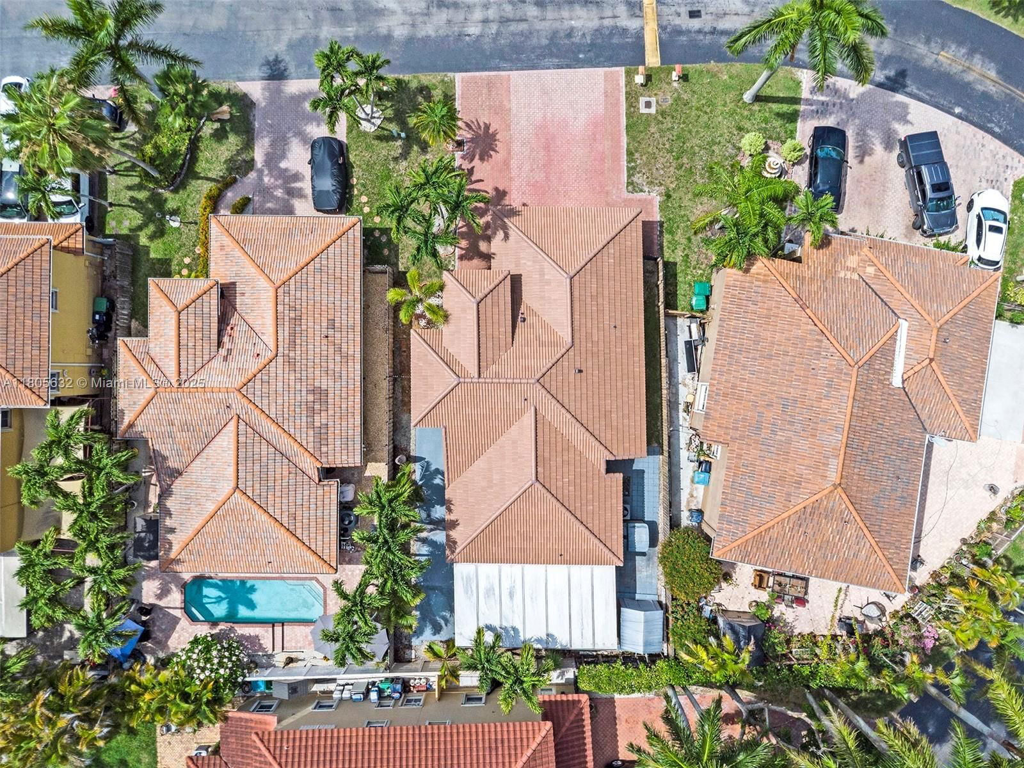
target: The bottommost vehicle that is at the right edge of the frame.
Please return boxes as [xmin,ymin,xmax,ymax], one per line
[966,191,1014,269]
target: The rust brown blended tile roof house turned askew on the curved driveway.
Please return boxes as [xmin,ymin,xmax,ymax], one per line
[689,232,1004,595]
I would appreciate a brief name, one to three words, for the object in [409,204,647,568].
house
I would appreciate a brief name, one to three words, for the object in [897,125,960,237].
truck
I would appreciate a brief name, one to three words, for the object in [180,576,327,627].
swimming pool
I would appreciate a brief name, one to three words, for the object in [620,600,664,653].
shed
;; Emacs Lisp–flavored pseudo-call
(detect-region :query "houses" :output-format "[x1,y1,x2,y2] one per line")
[689,232,1004,595]
[114,213,364,575]
[183,683,594,768]
[0,220,108,557]
[409,204,647,568]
